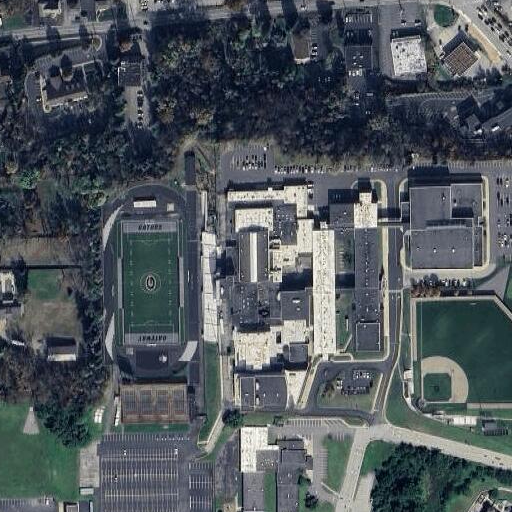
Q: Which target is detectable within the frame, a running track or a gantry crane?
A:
running track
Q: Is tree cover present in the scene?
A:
Yes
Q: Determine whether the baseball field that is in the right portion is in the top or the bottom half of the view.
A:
bottom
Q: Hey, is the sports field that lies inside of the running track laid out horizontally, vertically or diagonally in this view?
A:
vertically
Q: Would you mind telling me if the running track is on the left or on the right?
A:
left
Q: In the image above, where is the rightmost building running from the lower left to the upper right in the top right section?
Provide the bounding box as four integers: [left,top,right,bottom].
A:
[466,102,512,150]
